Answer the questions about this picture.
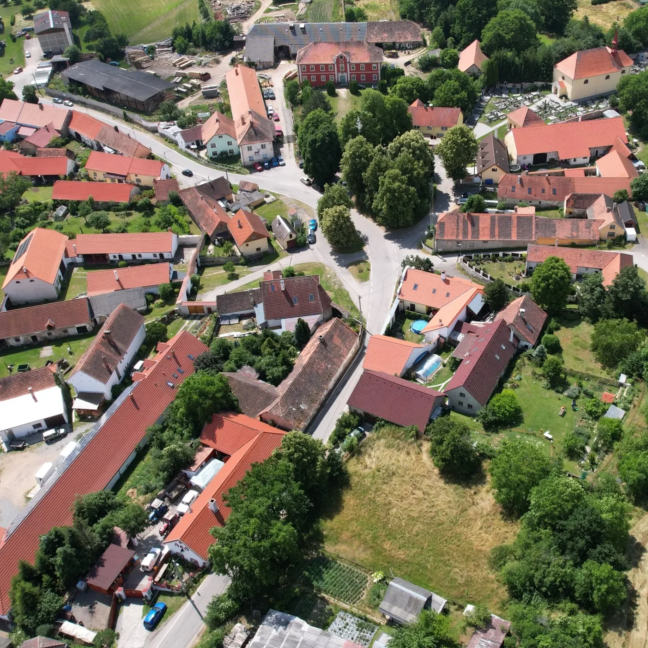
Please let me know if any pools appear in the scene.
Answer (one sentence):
Yes, looking at the shot, I can spot a pool.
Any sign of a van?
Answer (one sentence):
Yes, you can see a van in this photo.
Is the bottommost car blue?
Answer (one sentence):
Yes, the bottommost car is indeed blue.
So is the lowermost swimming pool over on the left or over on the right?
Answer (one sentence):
The lowermost swimming pool appears in the right half of the scene.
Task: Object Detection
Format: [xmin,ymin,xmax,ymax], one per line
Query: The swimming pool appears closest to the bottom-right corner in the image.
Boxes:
[417,356,449,380]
